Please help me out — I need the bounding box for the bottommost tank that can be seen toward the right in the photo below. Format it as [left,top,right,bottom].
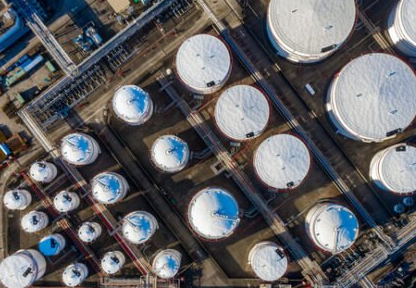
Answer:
[248,240,289,283]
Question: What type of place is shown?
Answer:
industrial area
